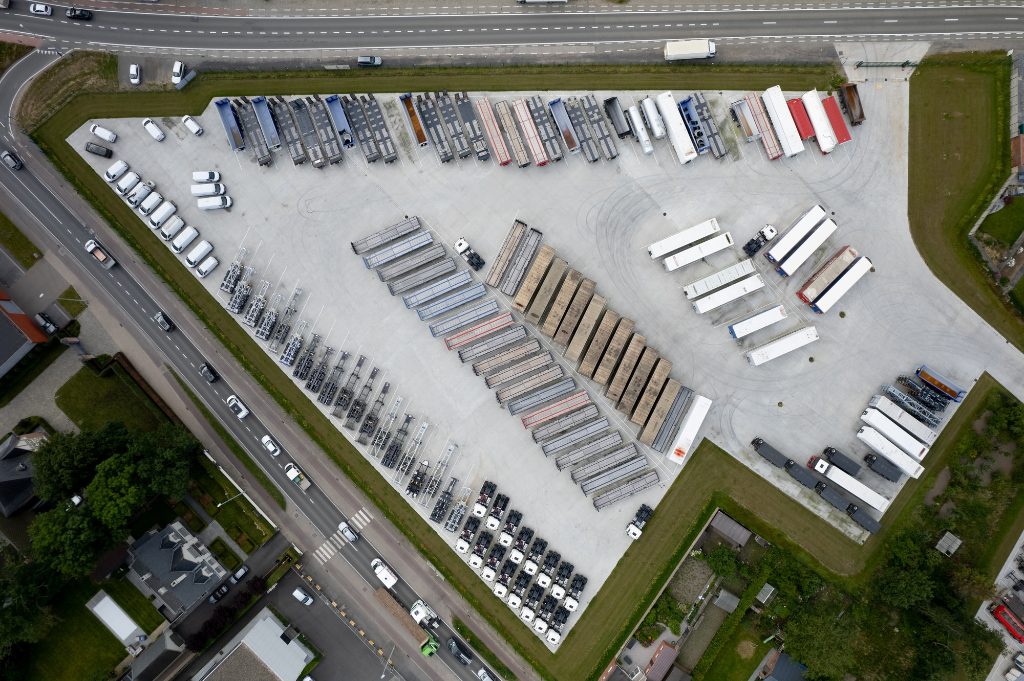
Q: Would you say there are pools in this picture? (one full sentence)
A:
Yes, the image includes a pool.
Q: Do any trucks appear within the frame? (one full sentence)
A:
Yes, the picture does show a truck.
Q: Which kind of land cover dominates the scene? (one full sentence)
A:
The bulk of the photo consists of paved ground.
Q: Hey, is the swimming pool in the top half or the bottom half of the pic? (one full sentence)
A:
The swimming pool is in the bottom half of the image.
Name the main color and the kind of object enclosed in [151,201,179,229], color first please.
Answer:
white van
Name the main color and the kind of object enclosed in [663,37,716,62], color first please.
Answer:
white truck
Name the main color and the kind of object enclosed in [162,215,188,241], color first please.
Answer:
white vehicle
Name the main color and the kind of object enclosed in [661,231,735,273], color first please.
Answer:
white trailer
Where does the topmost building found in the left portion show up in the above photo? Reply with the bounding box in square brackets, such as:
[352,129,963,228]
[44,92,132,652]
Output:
[0,292,45,383]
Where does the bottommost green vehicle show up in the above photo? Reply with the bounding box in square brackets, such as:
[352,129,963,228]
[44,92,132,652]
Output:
[422,636,441,659]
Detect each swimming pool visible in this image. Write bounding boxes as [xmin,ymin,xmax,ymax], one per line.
[84,585,151,654]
